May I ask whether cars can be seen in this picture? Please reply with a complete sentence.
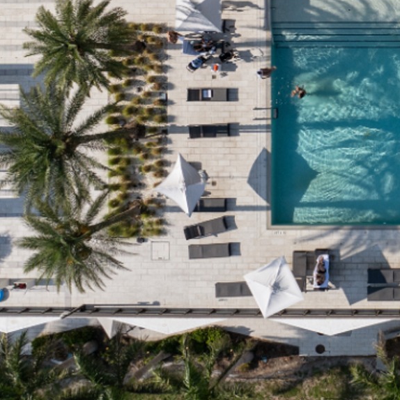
No, I find no car anywhere in the image.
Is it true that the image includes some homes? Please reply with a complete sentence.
No, no home can be seen from above.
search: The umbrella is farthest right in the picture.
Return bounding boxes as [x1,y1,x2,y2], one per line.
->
[243,257,303,318]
